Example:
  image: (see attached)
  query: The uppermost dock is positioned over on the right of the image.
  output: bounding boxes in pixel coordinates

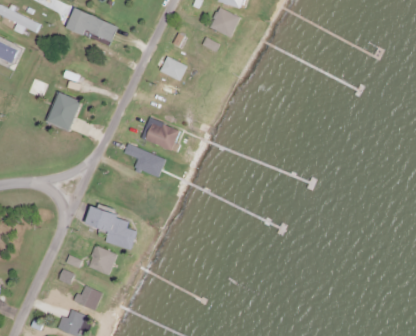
[280,6,386,60]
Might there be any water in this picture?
Yes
